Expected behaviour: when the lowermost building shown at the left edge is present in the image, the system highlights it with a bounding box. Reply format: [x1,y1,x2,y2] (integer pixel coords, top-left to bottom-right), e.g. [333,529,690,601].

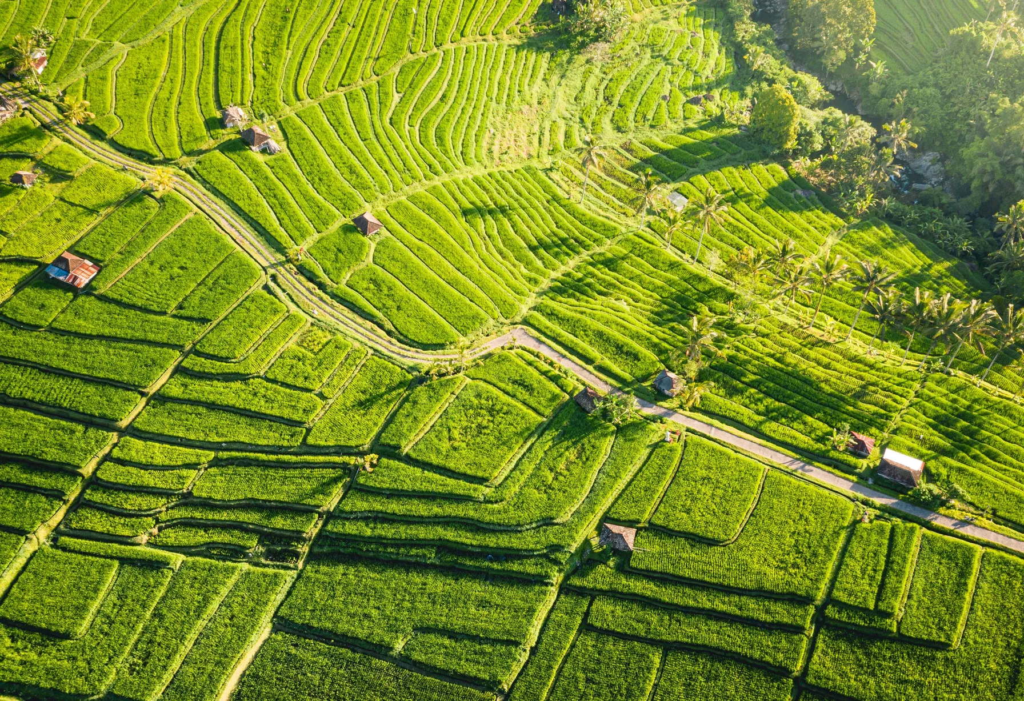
[45,253,100,294]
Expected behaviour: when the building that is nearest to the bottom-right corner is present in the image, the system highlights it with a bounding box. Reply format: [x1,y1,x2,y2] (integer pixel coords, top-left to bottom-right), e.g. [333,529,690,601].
[875,451,923,498]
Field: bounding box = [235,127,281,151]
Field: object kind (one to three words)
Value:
shed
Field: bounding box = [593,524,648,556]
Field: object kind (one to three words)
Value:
shed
